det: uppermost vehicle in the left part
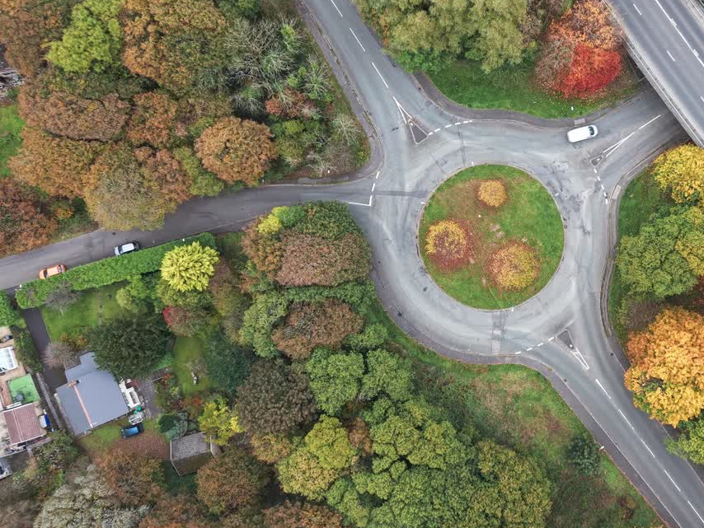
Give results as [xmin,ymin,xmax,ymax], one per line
[113,240,141,256]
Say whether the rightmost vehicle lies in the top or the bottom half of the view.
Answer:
top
